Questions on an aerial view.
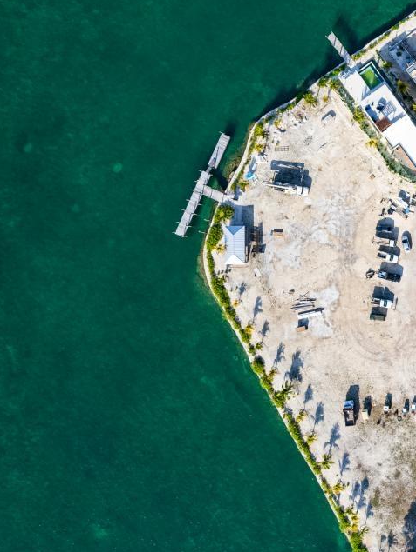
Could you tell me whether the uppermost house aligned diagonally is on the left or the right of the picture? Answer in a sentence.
It is on the right.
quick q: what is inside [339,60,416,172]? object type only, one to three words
house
